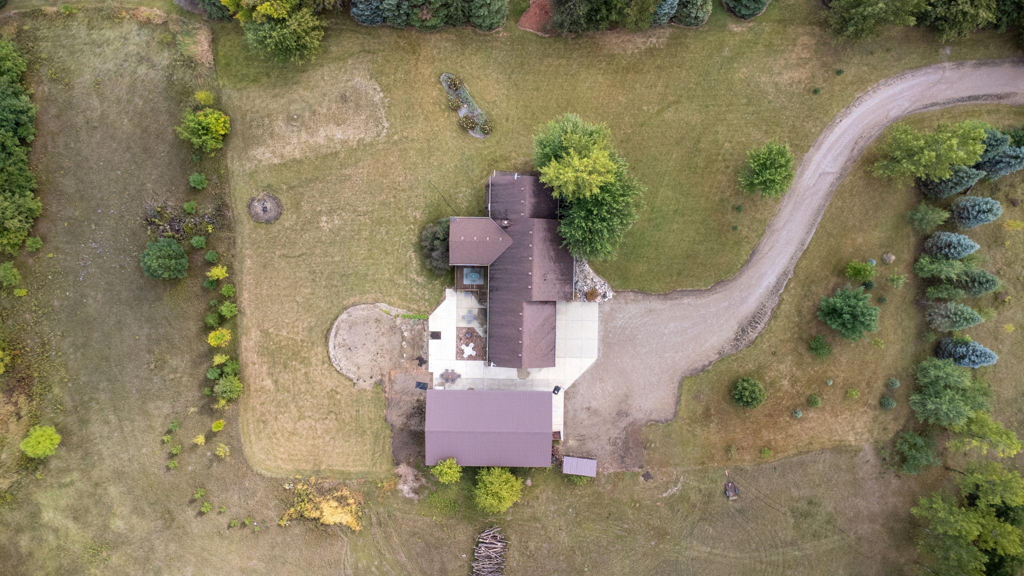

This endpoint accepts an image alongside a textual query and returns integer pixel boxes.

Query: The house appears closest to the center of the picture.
[449,175,575,368]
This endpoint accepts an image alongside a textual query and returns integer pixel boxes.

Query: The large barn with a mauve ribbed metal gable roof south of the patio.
[424,388,553,467]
